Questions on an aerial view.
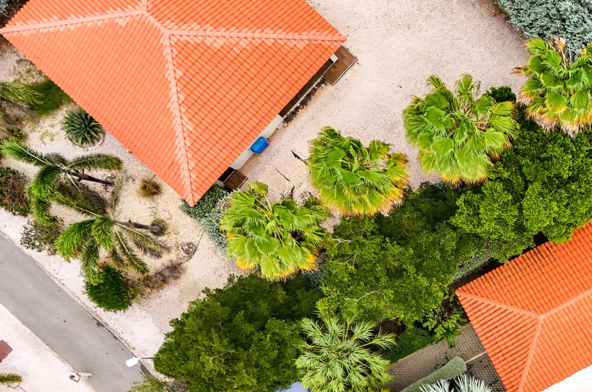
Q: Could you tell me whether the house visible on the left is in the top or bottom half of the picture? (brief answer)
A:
top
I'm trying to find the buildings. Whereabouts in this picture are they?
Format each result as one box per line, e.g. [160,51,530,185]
[454,216,592,392]
[0,0,360,207]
